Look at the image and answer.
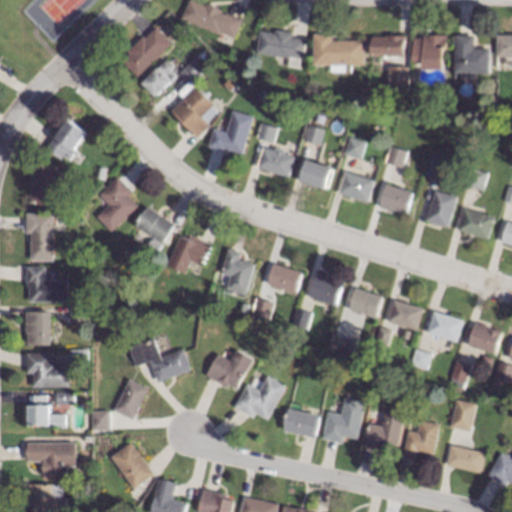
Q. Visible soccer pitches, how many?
0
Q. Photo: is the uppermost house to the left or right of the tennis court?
right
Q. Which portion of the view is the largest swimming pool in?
bottom left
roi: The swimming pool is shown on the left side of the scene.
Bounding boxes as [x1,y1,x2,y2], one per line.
[70,405,90,433]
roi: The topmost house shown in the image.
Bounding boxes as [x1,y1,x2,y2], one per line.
[182,0,243,38]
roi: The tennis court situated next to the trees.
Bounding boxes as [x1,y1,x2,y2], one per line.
[23,0,98,43]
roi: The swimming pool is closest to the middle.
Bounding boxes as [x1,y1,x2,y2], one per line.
[330,121,346,136]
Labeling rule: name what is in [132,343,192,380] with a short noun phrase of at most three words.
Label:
house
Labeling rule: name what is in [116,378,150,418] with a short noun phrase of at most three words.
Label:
house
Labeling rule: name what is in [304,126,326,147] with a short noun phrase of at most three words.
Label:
building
